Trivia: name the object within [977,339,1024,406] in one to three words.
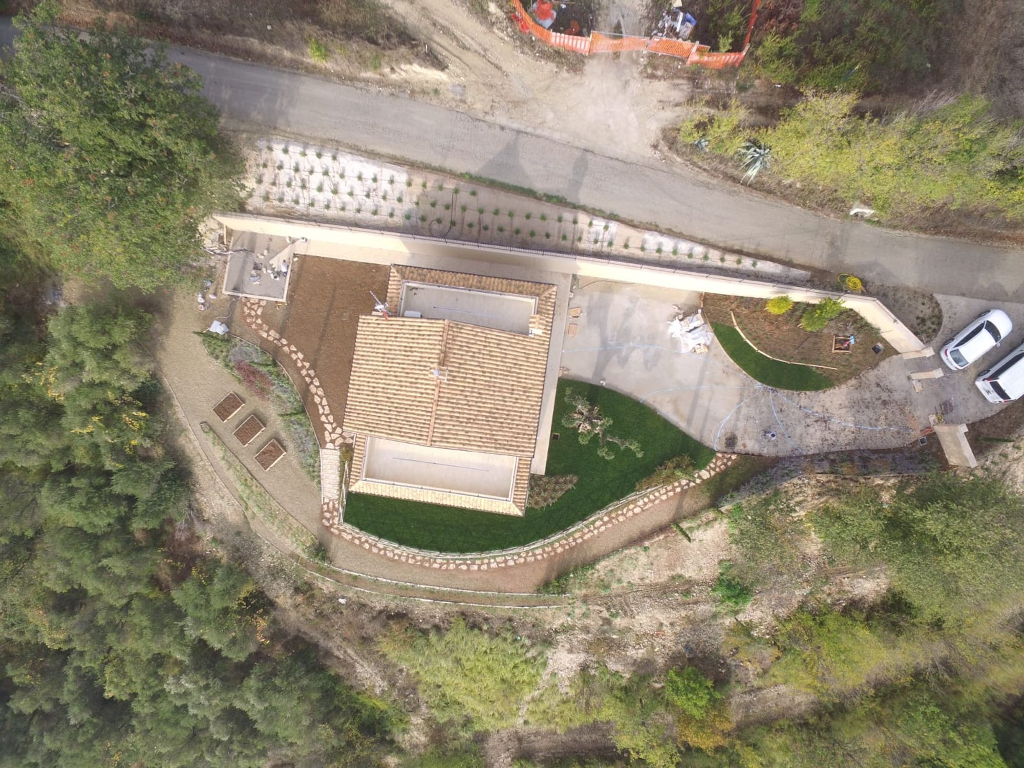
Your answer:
van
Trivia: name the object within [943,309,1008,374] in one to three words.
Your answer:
car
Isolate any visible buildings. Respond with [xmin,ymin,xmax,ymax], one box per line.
[341,263,558,517]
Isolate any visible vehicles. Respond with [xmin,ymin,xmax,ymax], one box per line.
[943,309,1008,374]
[977,339,1024,406]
